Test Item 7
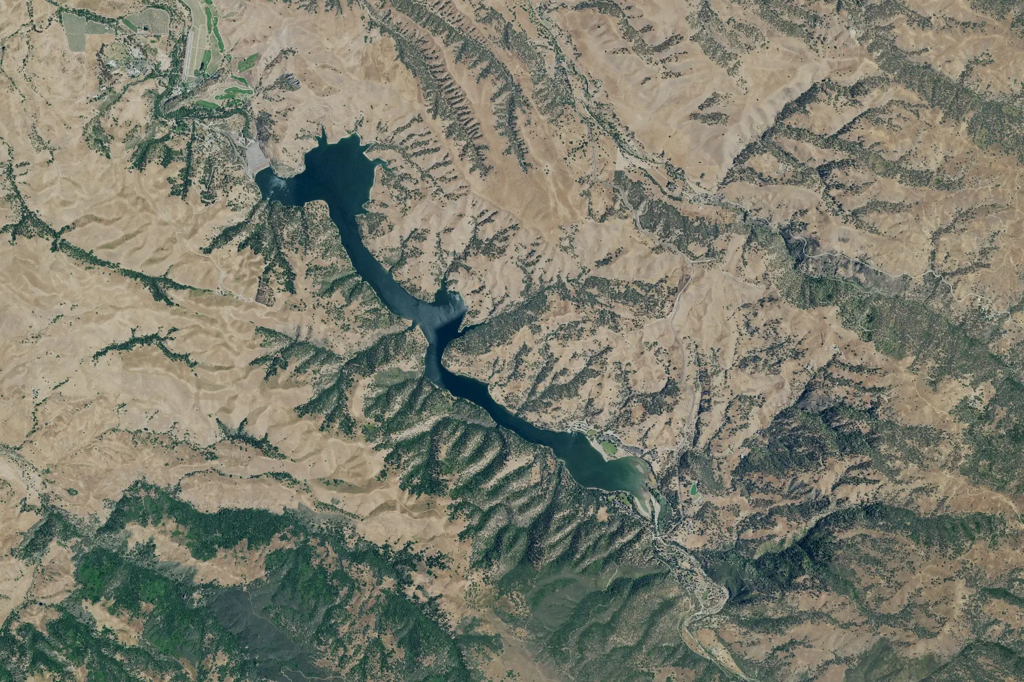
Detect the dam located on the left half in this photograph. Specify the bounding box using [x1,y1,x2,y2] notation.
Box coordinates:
[245,142,271,178]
